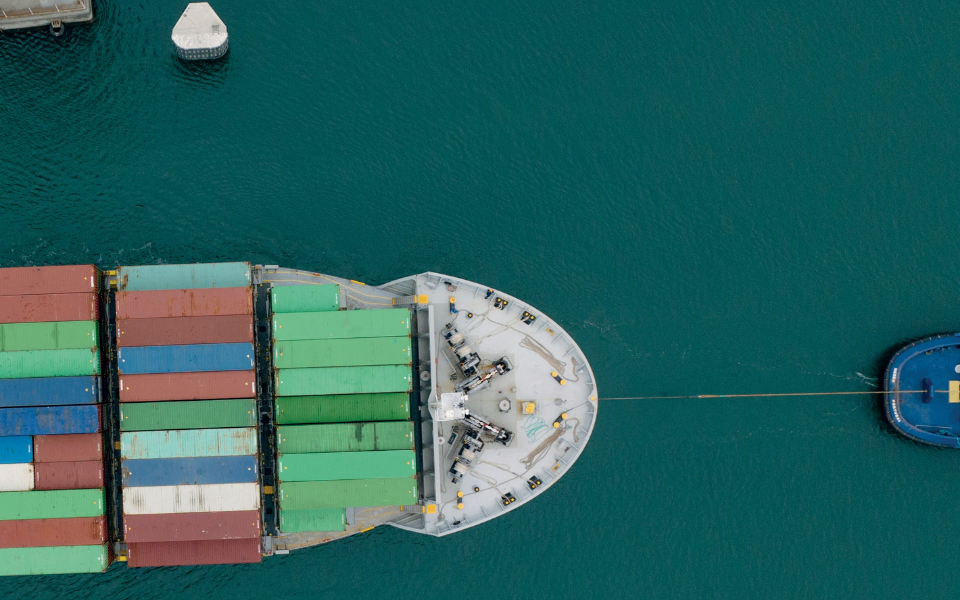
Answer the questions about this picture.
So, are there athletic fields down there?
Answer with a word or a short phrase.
No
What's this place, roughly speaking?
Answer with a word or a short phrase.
port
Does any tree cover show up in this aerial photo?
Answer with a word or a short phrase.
No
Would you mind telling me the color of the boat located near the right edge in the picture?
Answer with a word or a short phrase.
blue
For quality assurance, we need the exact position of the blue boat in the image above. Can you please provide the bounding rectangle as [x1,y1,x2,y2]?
[881,334,960,447]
